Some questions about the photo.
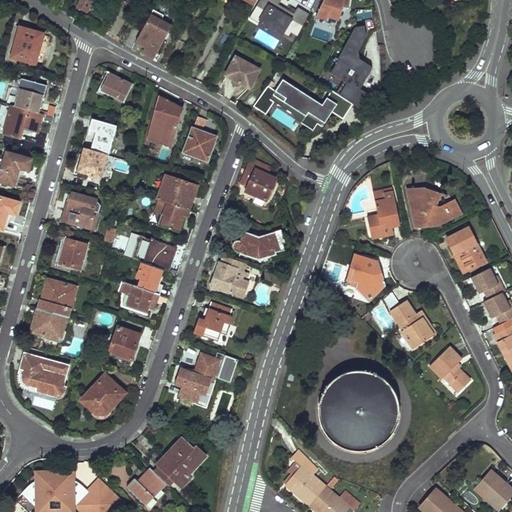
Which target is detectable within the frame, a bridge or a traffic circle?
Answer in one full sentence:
Looking from above, you can make out a traffic circle.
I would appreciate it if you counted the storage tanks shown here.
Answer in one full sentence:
Just 1 storage tank appears in this view.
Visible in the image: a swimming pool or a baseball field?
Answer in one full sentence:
The one in the frame is a swimming pool.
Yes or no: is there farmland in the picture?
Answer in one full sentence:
No, the scene doesn't show any farmland.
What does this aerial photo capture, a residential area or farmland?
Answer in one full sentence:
What you see here is a residential area.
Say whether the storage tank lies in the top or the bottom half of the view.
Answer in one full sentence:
The bottom half of the photo is where the storage tank is.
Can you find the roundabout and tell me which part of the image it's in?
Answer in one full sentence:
The roundabout is located in the top right region of the scene.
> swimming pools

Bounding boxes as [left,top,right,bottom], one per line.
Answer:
[352,186,368,214]
[97,312,114,328]
[331,264,342,282]
[157,145,172,160]
[61,337,84,358]
[113,160,127,173]
[355,11,374,21]
[141,196,151,206]
[252,28,281,50]
[218,356,238,382]
[310,26,334,42]
[372,305,394,331]
[270,106,296,128]
[0,80,6,100]
[256,282,270,306]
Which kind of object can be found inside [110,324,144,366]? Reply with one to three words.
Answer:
house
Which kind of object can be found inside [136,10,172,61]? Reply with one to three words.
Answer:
house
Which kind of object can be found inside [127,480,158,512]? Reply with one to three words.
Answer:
building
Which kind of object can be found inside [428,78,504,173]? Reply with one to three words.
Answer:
roundabout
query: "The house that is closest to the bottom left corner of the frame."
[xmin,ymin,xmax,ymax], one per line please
[18,471,88,512]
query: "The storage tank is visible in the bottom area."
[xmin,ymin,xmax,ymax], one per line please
[319,372,401,454]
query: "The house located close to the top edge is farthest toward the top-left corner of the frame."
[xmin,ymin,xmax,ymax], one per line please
[10,24,44,66]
